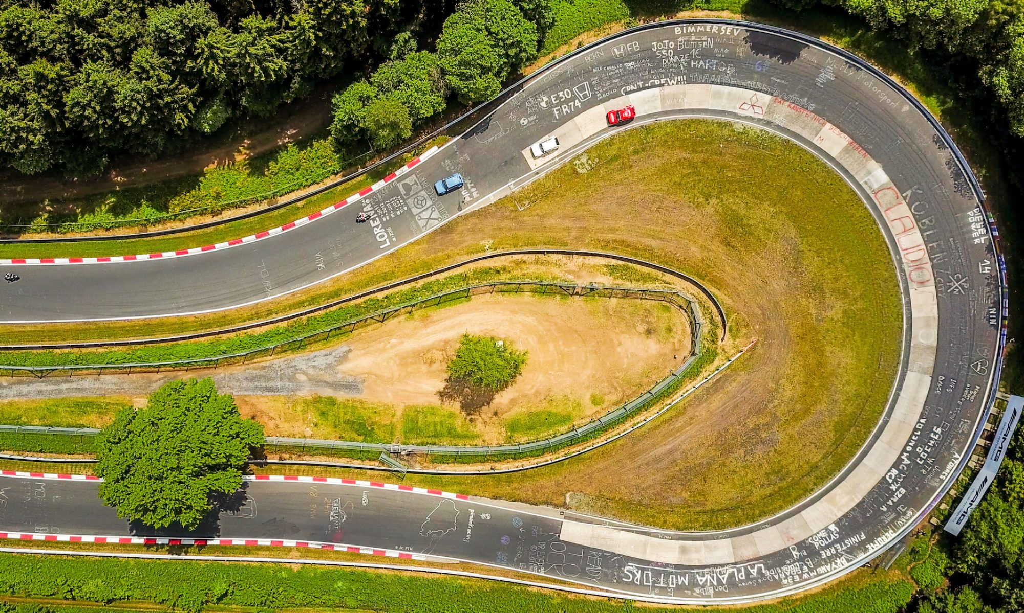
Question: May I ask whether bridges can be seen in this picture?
No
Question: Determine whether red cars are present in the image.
Yes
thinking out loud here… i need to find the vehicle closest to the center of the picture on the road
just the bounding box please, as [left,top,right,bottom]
[434,174,466,195]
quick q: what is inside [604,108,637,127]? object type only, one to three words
car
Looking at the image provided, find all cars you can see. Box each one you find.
[604,108,637,127]
[529,136,561,158]
[434,174,466,195]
